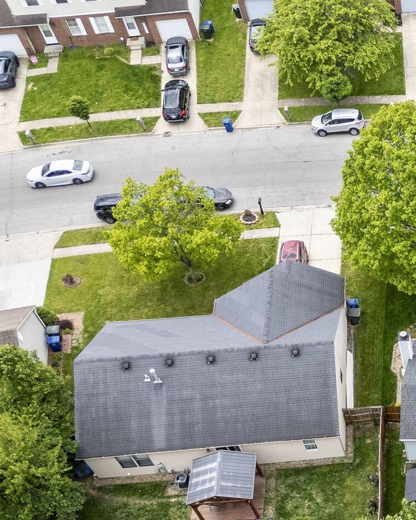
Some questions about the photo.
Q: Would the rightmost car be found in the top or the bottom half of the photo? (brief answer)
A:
top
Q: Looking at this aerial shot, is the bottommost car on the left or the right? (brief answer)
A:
right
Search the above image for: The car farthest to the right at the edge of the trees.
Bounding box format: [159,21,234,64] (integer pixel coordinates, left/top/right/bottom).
[310,106,367,137]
